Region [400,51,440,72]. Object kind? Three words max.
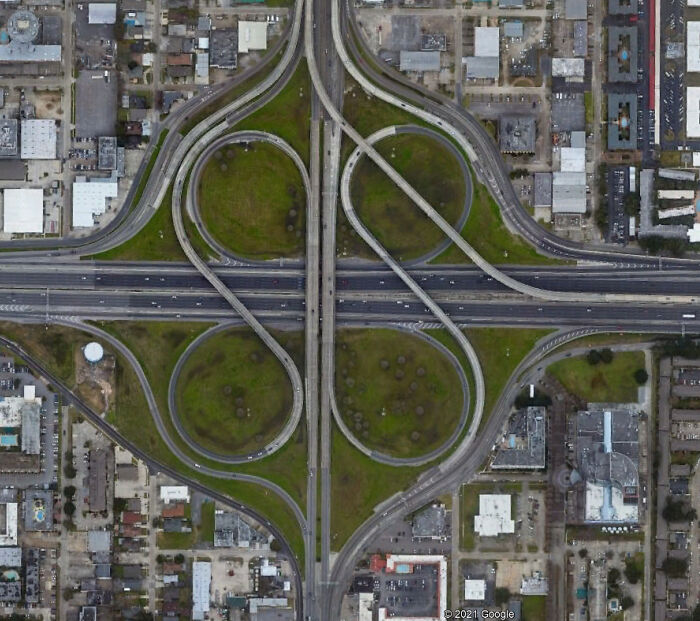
shed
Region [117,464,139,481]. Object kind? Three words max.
house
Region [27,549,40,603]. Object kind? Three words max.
building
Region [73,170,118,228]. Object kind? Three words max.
building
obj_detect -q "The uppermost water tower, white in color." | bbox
[83,342,104,365]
